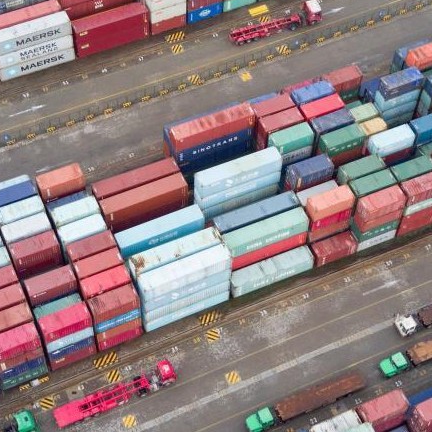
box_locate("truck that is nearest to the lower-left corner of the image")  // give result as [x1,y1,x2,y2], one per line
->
[4,410,38,432]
